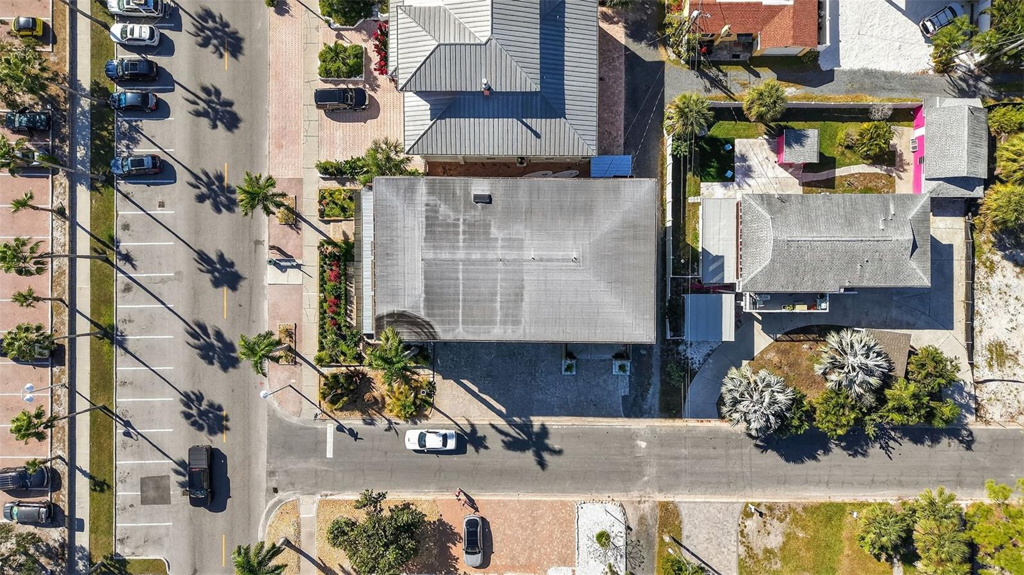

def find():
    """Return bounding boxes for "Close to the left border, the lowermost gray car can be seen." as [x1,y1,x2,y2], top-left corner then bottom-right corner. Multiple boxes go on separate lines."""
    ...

[1,500,54,526]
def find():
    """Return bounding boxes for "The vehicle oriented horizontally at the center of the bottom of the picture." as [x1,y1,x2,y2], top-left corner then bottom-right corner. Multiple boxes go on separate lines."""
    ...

[405,427,458,453]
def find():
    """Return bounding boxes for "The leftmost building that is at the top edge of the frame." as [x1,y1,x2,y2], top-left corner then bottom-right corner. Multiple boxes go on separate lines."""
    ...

[388,0,599,167]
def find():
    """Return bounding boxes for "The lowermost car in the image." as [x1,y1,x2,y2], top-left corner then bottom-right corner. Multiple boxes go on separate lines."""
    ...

[461,514,486,568]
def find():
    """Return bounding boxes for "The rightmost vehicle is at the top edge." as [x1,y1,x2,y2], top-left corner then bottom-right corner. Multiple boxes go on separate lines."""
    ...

[913,0,965,40]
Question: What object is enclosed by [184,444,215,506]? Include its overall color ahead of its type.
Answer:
black truck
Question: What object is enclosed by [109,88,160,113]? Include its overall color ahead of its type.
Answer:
black car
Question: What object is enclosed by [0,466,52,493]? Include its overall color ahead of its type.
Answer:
black car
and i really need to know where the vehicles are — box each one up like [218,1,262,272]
[106,0,165,19]
[461,514,486,568]
[9,14,44,38]
[103,54,160,83]
[4,109,53,133]
[1,500,54,526]
[312,86,368,113]
[109,20,161,48]
[109,88,160,113]
[110,152,164,177]
[184,444,215,506]
[405,427,458,453]
[0,466,52,493]
[913,0,965,40]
